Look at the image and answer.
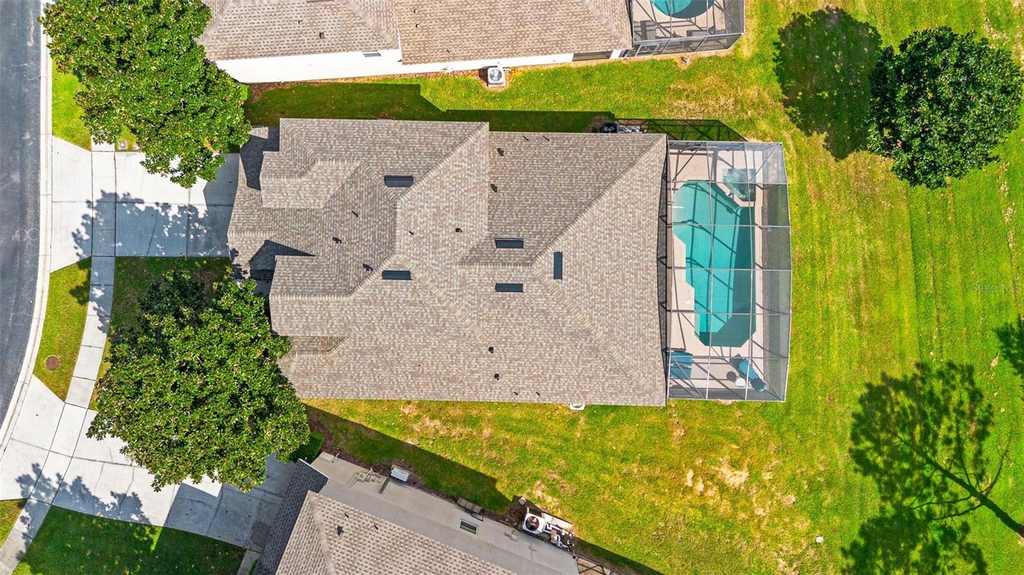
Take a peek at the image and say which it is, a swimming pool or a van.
swimming pool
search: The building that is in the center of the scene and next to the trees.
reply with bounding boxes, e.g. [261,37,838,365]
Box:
[227,118,669,406]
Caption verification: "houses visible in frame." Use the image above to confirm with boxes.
[250,452,581,575]
[227,118,669,406]
[176,0,632,84]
